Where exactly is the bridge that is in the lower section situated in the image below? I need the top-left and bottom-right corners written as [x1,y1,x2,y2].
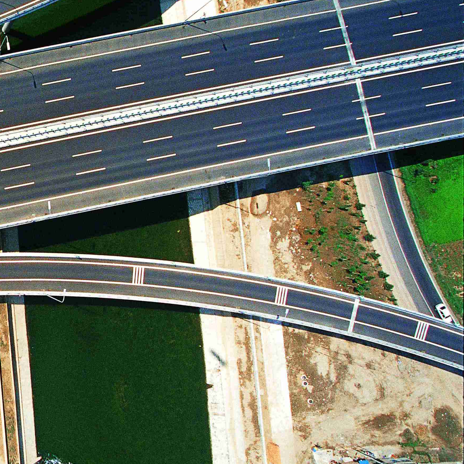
[0,253,464,370]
